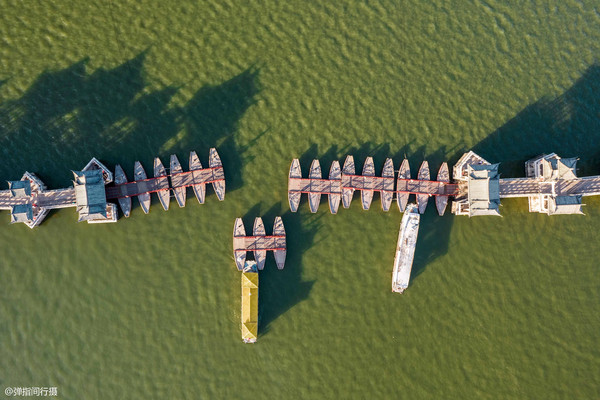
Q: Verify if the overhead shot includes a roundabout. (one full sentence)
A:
No, there appears to be no roundabout in this shot.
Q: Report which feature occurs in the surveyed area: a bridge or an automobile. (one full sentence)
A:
I can see a bridge in this picture.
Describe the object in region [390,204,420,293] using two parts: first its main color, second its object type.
white boat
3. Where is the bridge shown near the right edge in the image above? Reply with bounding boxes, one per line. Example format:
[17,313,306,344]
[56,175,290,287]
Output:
[448,151,600,215]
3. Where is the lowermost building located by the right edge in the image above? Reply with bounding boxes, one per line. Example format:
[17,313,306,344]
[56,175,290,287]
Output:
[544,193,587,216]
